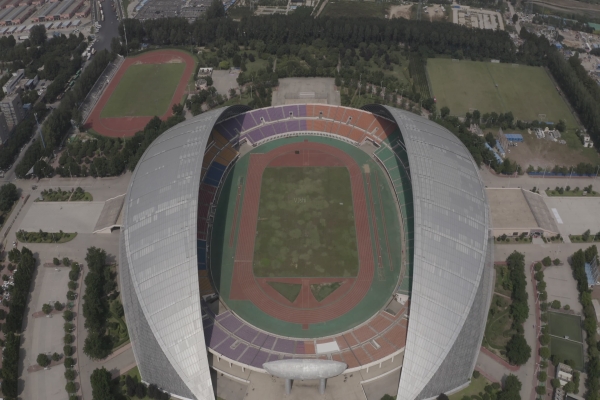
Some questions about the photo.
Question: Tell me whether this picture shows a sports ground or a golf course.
sports ground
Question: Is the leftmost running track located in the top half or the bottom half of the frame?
top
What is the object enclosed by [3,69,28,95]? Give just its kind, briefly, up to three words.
building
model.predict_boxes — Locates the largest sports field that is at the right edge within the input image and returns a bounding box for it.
[427,59,580,128]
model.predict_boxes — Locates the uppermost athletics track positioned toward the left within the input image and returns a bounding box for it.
[87,47,198,140]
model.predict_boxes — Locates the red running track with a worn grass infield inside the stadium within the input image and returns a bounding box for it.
[203,134,409,340]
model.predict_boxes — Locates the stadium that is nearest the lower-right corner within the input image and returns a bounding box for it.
[93,93,562,400]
